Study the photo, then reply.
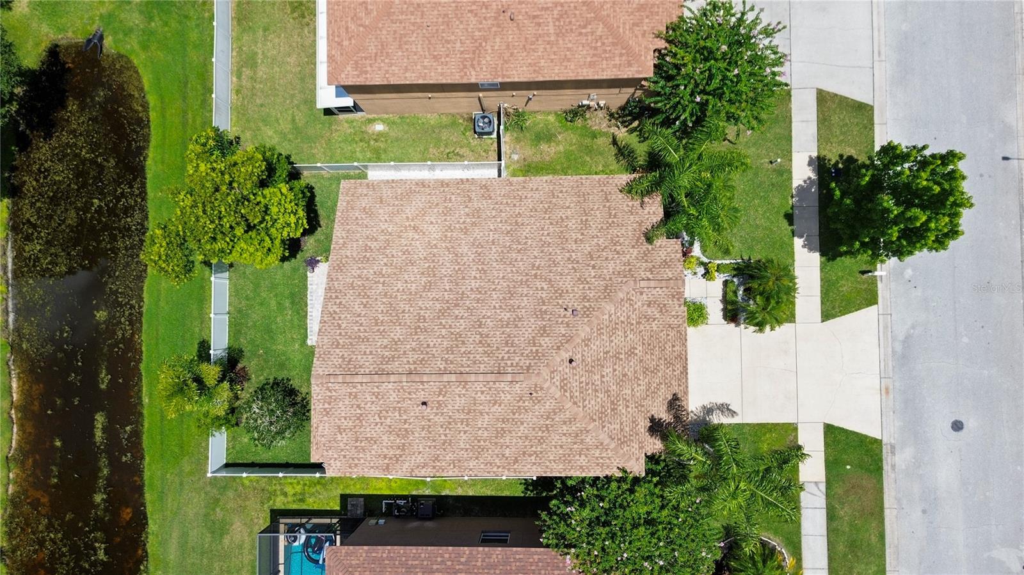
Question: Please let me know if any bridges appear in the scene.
No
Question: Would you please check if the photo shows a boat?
No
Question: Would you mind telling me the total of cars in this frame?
0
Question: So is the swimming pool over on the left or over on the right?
left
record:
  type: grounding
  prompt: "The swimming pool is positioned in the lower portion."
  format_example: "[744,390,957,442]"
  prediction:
[277,517,367,575]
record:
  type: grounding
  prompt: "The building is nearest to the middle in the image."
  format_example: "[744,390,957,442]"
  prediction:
[311,175,689,477]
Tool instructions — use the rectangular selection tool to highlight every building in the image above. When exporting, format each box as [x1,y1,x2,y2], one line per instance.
[311,175,689,477]
[325,0,681,115]
[326,516,650,575]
